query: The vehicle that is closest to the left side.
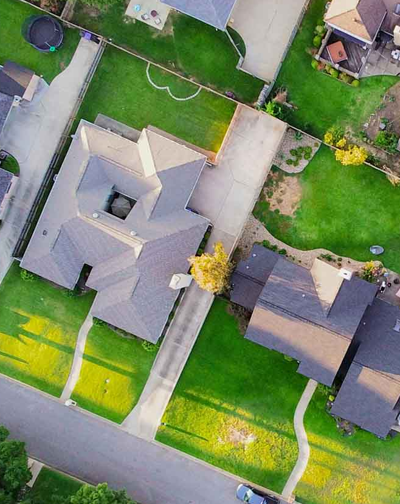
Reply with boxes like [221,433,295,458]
[233,481,280,504]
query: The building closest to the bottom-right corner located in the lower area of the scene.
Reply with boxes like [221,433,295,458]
[330,297,400,440]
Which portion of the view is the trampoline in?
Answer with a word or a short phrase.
top left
